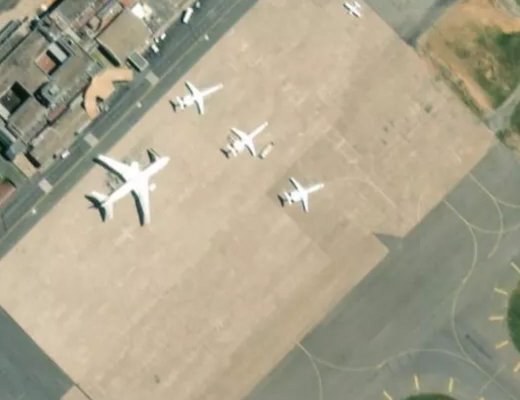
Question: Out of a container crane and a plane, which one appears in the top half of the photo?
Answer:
plane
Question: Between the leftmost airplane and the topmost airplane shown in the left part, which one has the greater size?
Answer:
the leftmost airplane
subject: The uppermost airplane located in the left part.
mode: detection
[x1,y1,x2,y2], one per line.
[175,81,222,116]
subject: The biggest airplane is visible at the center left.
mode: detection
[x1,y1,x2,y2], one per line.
[91,153,170,225]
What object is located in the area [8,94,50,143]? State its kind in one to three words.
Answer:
building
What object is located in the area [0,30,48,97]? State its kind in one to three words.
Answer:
building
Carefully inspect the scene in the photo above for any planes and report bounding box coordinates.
[346,1,361,17]
[283,177,323,212]
[225,123,267,158]
[91,153,170,225]
[175,81,222,116]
